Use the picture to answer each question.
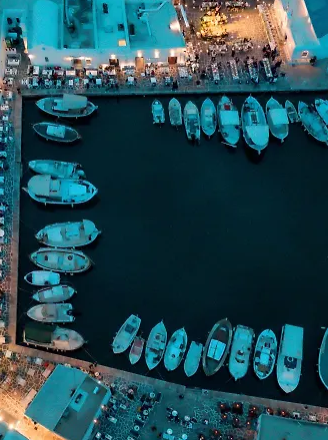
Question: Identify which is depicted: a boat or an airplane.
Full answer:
It is a boat that can be seen here.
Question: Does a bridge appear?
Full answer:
No, there isn't any bridge down there.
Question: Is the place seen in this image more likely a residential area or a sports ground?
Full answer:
It's a residential area.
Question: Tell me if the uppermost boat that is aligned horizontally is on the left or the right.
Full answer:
The uppermost boat that is aligned horizontally is on the left side of the image.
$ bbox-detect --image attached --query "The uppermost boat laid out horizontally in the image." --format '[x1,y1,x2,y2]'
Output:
[20,94,98,119]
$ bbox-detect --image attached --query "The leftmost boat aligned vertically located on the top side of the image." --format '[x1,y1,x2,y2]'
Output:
[151,93,164,126]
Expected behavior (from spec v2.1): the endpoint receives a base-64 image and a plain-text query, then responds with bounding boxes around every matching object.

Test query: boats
[306,90,328,128]
[197,318,234,390]
[251,329,276,400]
[163,327,189,372]
[180,92,201,143]
[226,324,255,387]
[151,93,164,126]
[315,327,328,407]
[18,270,60,287]
[275,324,304,403]
[122,333,145,376]
[18,220,101,250]
[215,92,241,148]
[277,90,299,125]
[240,93,269,153]
[167,93,182,129]
[144,321,167,376]
[20,175,98,207]
[290,90,328,146]
[19,158,83,179]
[28,248,95,276]
[264,93,289,141]
[20,94,98,119]
[180,340,202,387]
[200,96,216,138]
[22,325,96,363]
[20,304,73,325]
[111,314,141,371]
[18,286,77,304]
[20,120,81,142]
